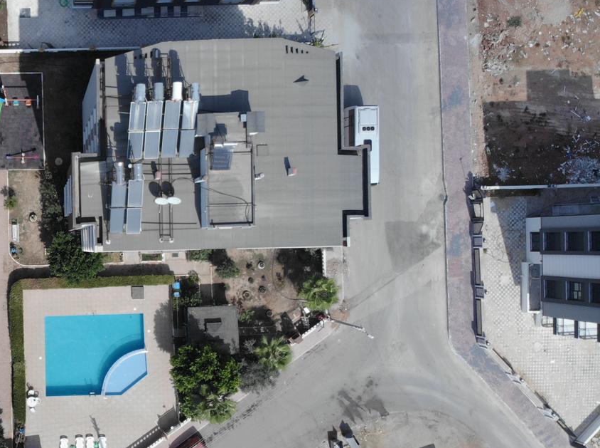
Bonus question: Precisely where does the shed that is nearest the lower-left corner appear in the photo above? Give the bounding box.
[184,306,238,354]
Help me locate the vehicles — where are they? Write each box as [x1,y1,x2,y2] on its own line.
[346,109,379,187]
[177,435,209,448]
